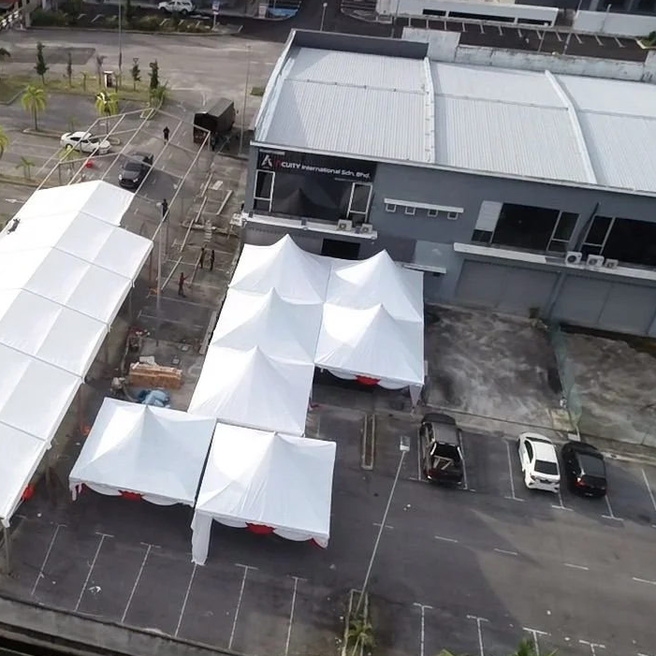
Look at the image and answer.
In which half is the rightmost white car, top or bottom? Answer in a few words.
bottom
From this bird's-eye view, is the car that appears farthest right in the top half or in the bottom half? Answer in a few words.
bottom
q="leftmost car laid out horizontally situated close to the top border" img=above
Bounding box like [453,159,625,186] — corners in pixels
[161,0,200,15]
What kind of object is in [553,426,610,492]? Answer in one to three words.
car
